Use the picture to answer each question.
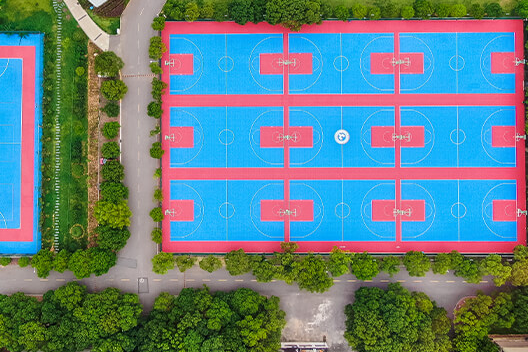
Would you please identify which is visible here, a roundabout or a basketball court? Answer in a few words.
basketball court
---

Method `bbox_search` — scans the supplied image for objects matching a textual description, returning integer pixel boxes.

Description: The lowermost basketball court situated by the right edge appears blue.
[401,180,518,241]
